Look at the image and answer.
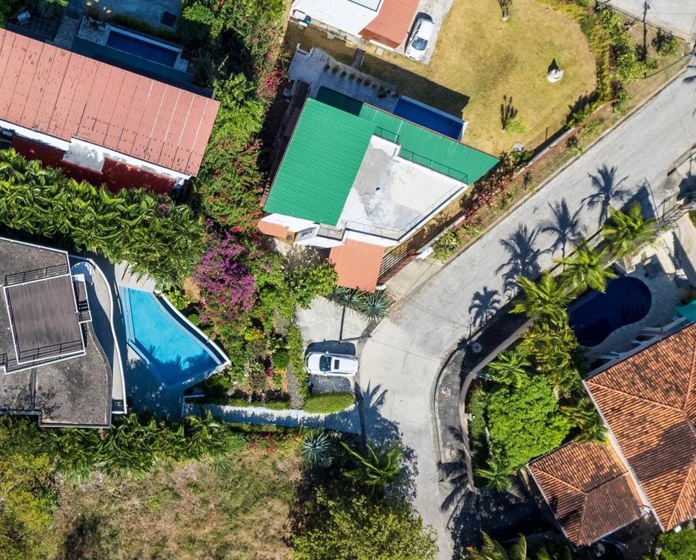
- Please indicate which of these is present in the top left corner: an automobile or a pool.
pool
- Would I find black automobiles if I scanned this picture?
No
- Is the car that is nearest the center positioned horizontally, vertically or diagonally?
horizontally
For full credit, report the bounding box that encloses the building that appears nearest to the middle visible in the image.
[258,75,501,292]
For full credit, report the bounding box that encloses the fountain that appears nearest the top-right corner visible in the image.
[547,69,565,84]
